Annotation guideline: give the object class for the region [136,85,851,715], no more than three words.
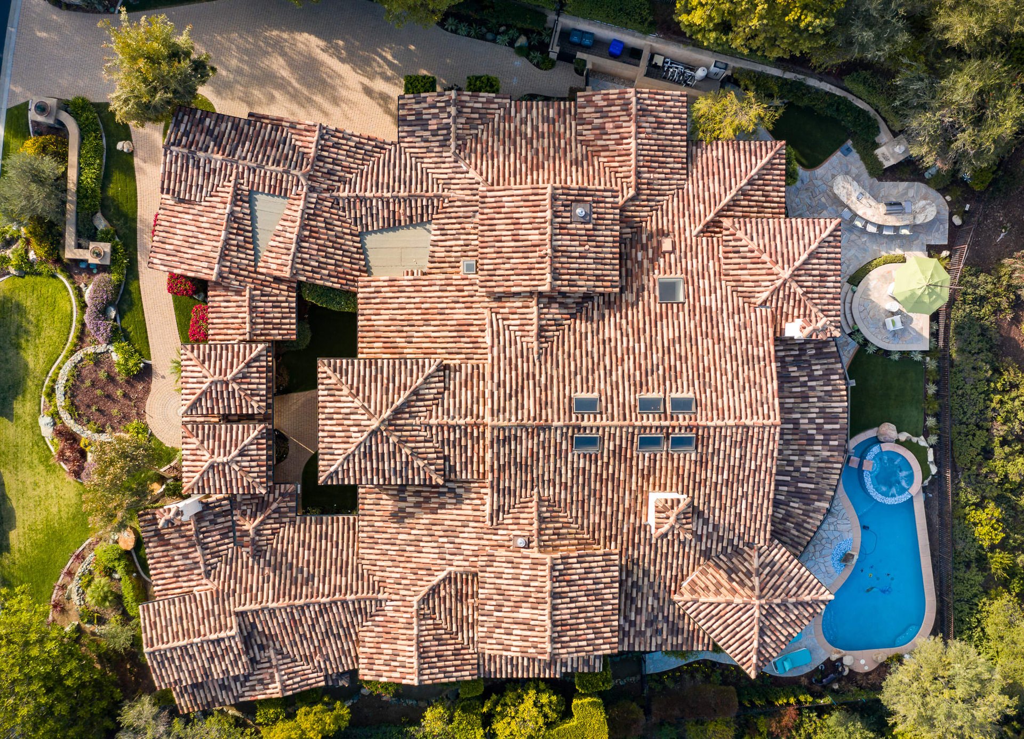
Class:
house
